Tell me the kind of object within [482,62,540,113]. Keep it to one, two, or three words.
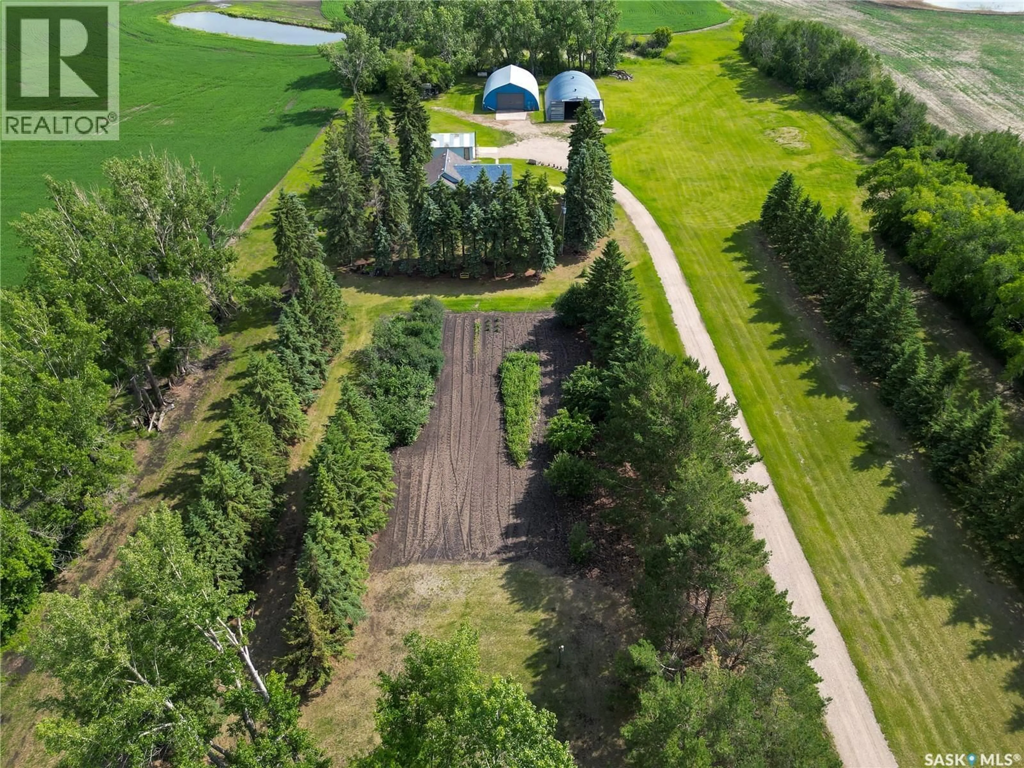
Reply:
building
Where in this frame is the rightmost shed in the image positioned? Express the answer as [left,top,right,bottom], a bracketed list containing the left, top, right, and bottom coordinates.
[543,69,609,121]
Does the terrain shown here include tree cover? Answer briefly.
Yes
